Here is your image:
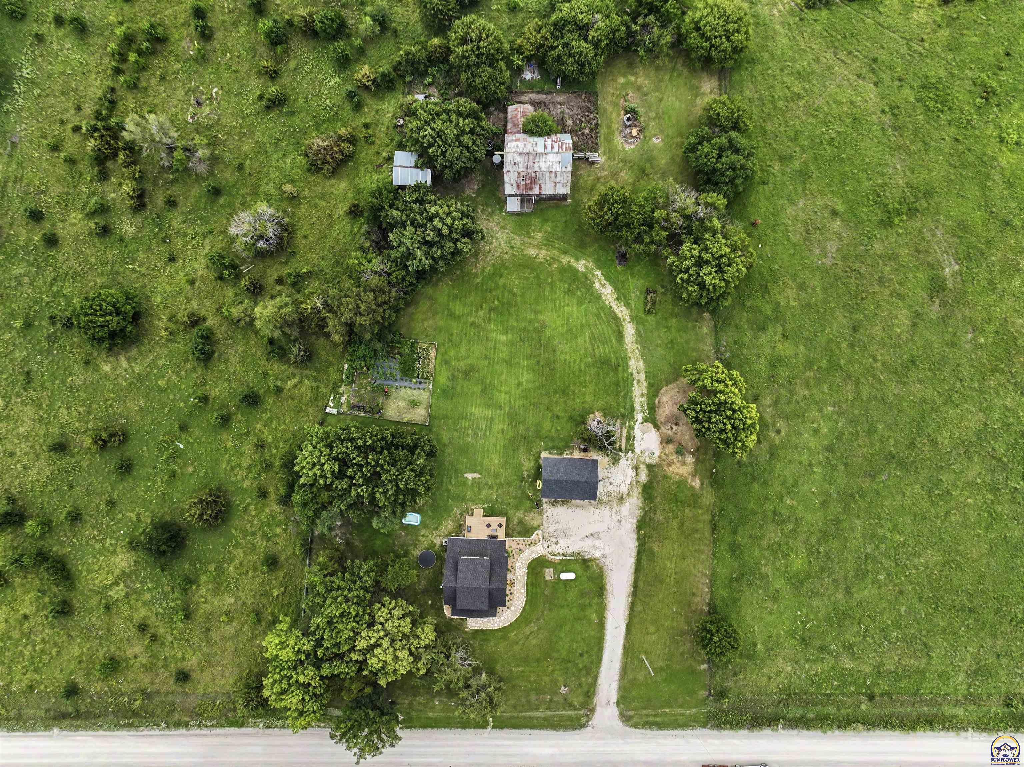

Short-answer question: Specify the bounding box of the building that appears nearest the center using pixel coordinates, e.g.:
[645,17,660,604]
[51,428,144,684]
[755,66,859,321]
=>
[541,457,599,501]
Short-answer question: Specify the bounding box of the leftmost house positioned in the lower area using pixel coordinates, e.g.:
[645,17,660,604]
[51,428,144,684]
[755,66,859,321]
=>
[443,536,507,617]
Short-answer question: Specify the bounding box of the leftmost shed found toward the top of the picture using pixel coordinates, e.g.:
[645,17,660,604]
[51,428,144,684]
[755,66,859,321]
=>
[389,151,431,186]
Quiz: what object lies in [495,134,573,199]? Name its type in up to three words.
barn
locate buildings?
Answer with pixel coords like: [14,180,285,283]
[389,151,431,186]
[541,457,599,501]
[495,134,573,199]
[443,536,507,617]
